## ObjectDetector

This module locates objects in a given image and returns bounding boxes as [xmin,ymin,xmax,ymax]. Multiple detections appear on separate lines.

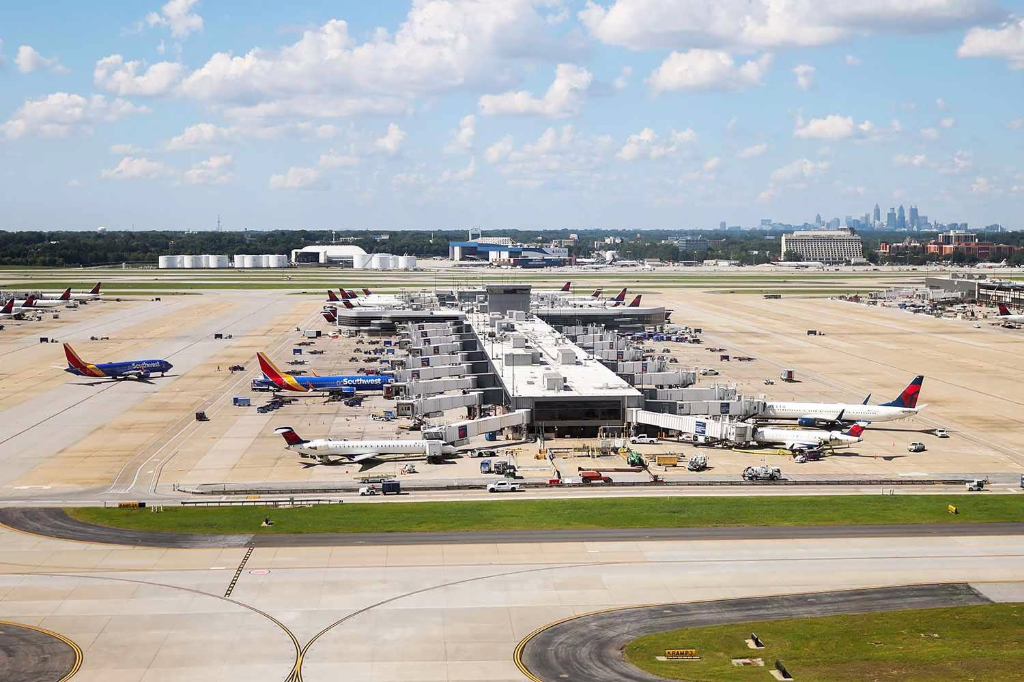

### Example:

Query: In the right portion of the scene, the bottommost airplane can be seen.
[754,432,876,460]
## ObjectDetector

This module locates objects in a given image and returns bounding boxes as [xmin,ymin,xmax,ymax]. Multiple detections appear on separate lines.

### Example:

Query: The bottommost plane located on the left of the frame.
[271,427,456,468]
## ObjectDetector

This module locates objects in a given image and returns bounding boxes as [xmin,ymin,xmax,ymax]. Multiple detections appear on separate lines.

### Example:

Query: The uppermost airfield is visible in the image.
[0,267,1024,322]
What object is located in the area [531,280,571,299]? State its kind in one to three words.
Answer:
airplane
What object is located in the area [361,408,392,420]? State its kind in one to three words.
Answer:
vehicle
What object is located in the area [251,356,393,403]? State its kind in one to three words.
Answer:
airplane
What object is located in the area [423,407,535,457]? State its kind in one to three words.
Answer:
jet bridge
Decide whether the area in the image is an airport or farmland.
airport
